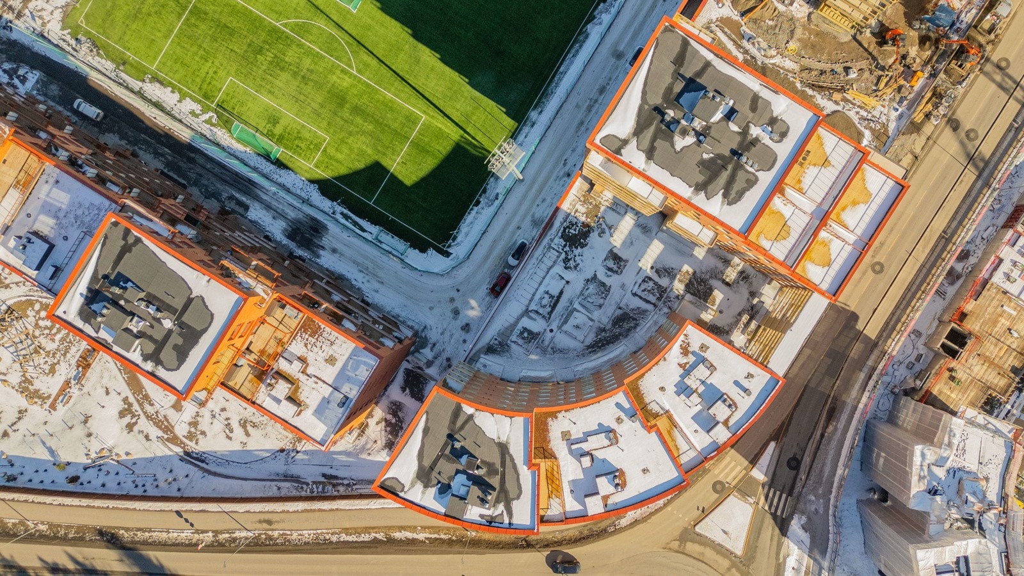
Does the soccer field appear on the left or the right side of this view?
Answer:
left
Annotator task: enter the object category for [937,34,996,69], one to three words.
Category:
work vehicle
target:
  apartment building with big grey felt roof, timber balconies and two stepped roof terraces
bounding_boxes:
[574,14,910,305]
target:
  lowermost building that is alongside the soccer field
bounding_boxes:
[371,307,786,534]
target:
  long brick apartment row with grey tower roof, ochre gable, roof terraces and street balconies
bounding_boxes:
[0,97,420,451]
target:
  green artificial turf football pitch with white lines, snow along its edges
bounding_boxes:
[56,0,611,257]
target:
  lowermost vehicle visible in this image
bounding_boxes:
[552,558,582,575]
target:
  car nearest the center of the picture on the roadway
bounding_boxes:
[490,271,512,299]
